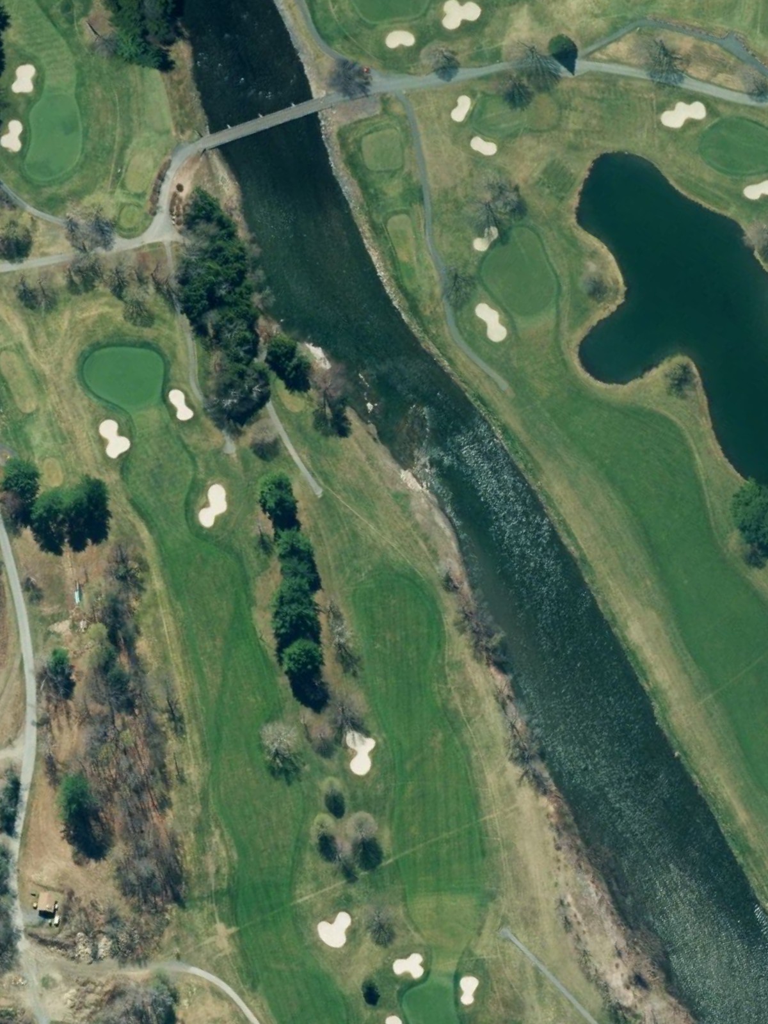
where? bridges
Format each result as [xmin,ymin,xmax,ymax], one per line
[194,86,347,153]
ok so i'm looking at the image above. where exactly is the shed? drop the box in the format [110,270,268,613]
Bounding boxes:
[36,892,55,913]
